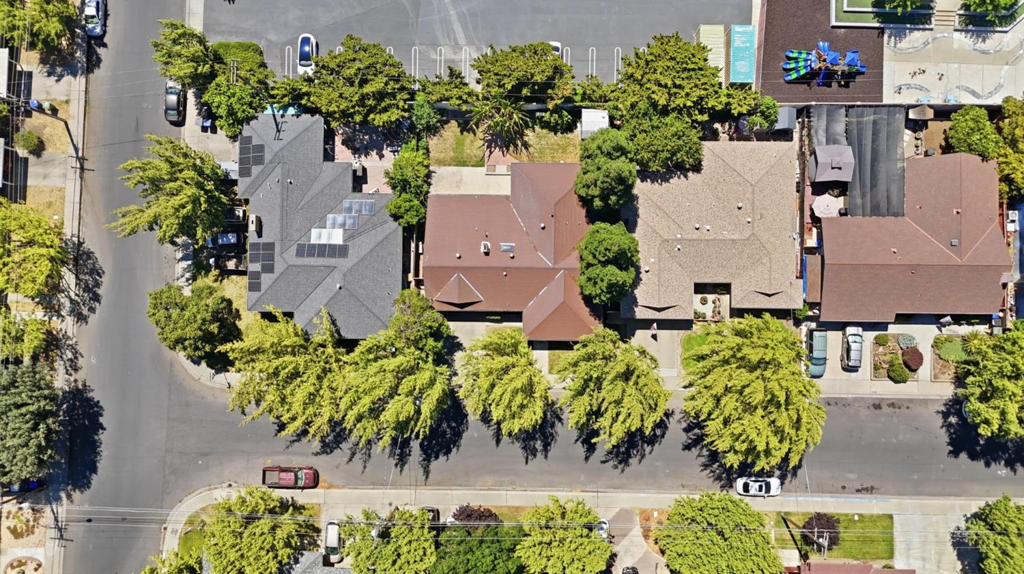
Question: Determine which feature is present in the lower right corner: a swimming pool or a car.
car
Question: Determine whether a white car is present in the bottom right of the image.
Yes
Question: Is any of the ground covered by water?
No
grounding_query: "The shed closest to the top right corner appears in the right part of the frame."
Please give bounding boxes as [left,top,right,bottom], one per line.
[905,106,933,122]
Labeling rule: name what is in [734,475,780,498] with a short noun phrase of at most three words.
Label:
car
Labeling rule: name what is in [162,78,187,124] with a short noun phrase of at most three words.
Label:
car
